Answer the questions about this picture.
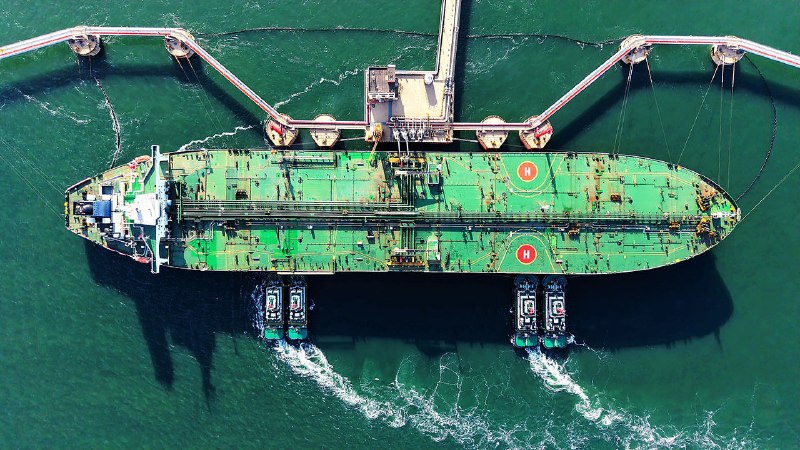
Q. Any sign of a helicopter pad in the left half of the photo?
No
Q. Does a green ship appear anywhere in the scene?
Yes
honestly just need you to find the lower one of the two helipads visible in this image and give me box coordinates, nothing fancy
[516,244,537,264]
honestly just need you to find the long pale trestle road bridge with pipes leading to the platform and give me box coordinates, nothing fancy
[435,0,462,77]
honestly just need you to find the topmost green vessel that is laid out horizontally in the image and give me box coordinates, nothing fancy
[63,146,742,275]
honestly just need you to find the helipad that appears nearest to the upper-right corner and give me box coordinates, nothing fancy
[517,162,538,181]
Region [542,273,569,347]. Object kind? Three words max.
boat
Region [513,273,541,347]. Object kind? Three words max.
boat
